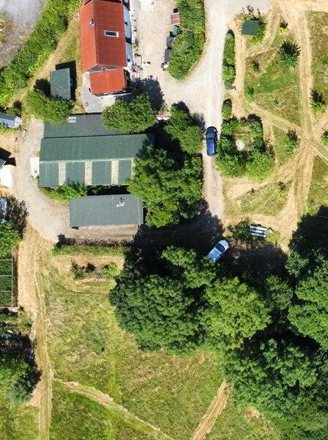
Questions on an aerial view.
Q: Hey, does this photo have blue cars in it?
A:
Yes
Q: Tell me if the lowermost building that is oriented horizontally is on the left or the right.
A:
left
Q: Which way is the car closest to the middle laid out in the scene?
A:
at an angle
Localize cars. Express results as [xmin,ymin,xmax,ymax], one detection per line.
[204,126,220,156]
[204,238,230,265]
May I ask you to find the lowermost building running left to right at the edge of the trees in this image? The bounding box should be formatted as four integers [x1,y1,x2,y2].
[69,195,148,227]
